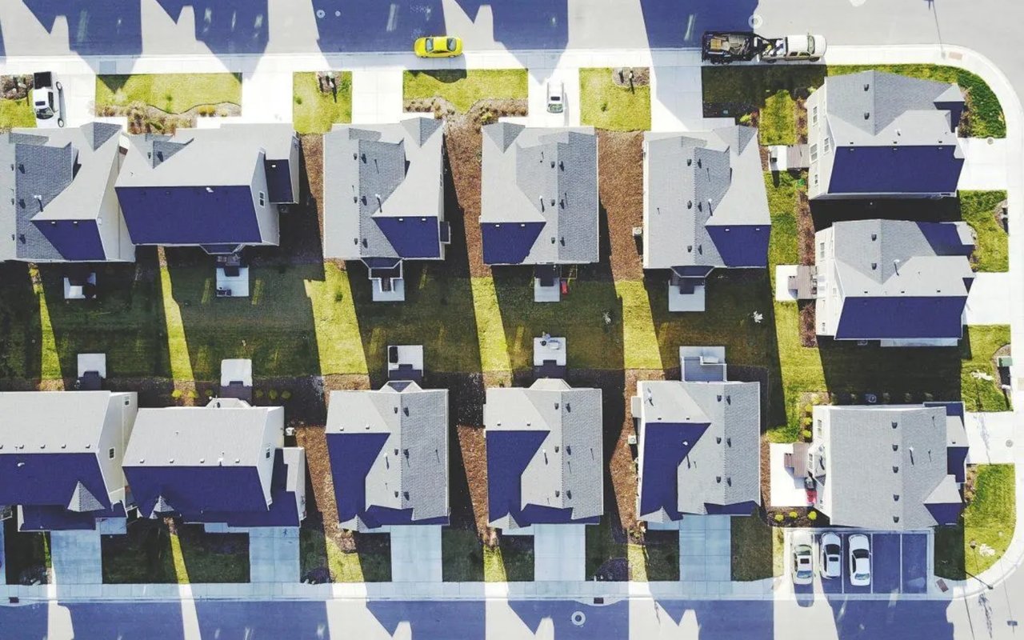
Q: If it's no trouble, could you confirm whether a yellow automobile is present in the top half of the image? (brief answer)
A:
Yes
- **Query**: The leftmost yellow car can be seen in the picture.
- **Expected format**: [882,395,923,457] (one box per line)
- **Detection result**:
[415,36,463,60]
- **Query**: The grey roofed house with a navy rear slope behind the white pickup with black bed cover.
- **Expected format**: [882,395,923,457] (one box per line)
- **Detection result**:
[0,119,136,263]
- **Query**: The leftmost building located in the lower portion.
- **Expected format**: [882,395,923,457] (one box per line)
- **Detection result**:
[0,388,137,531]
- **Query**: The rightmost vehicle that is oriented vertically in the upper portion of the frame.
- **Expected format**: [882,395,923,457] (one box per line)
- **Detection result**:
[544,78,567,129]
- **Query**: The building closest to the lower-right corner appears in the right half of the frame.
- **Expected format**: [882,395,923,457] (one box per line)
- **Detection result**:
[804,399,967,529]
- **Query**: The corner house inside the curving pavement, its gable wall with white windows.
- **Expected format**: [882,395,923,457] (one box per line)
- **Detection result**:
[807,70,963,199]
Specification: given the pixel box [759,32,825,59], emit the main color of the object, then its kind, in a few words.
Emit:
white truck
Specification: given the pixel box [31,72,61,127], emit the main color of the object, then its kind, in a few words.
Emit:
white truck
